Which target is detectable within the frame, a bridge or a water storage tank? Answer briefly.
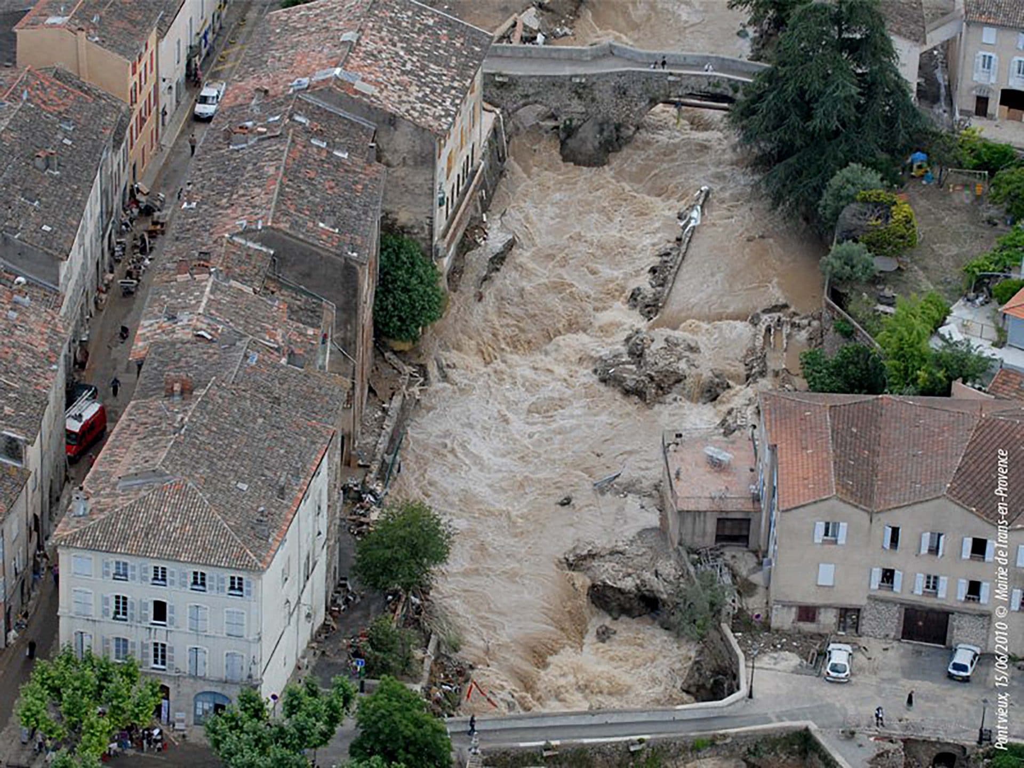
bridge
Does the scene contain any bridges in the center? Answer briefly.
No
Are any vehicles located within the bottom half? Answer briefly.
Yes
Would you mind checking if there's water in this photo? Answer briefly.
Yes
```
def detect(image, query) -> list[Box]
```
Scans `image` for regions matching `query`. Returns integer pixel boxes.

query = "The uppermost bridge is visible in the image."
[489,38,791,141]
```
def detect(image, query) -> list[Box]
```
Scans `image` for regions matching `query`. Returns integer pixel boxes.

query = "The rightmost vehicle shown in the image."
[944,644,984,692]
